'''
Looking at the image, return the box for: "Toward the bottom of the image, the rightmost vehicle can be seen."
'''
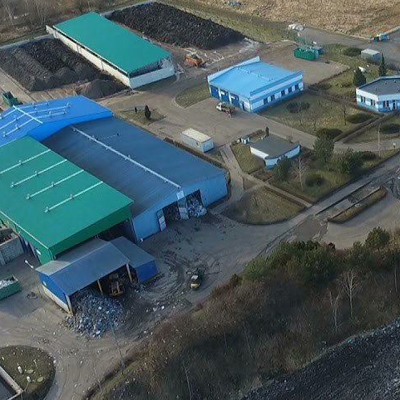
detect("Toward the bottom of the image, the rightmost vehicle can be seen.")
[185,268,203,294]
